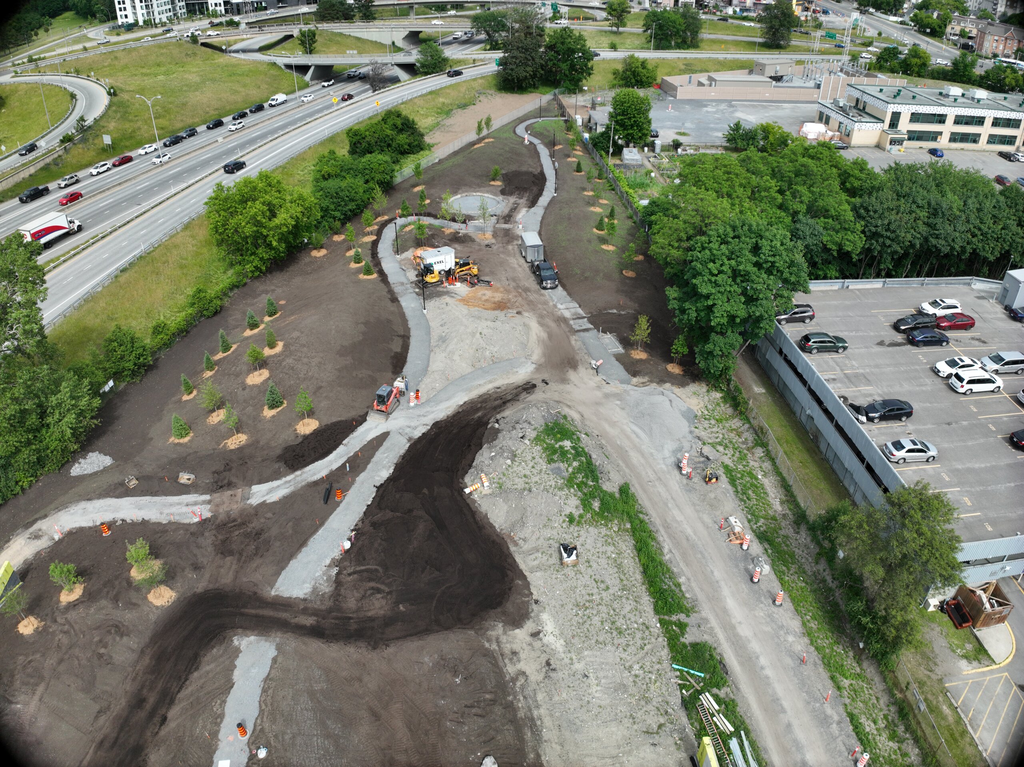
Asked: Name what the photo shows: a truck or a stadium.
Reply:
truck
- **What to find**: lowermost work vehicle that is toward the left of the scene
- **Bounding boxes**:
[369,386,404,422]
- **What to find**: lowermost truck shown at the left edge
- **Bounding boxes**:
[19,214,80,248]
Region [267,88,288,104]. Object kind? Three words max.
vehicle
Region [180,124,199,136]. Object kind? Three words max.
vehicle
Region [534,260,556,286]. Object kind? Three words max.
truck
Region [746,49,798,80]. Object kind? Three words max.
shed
